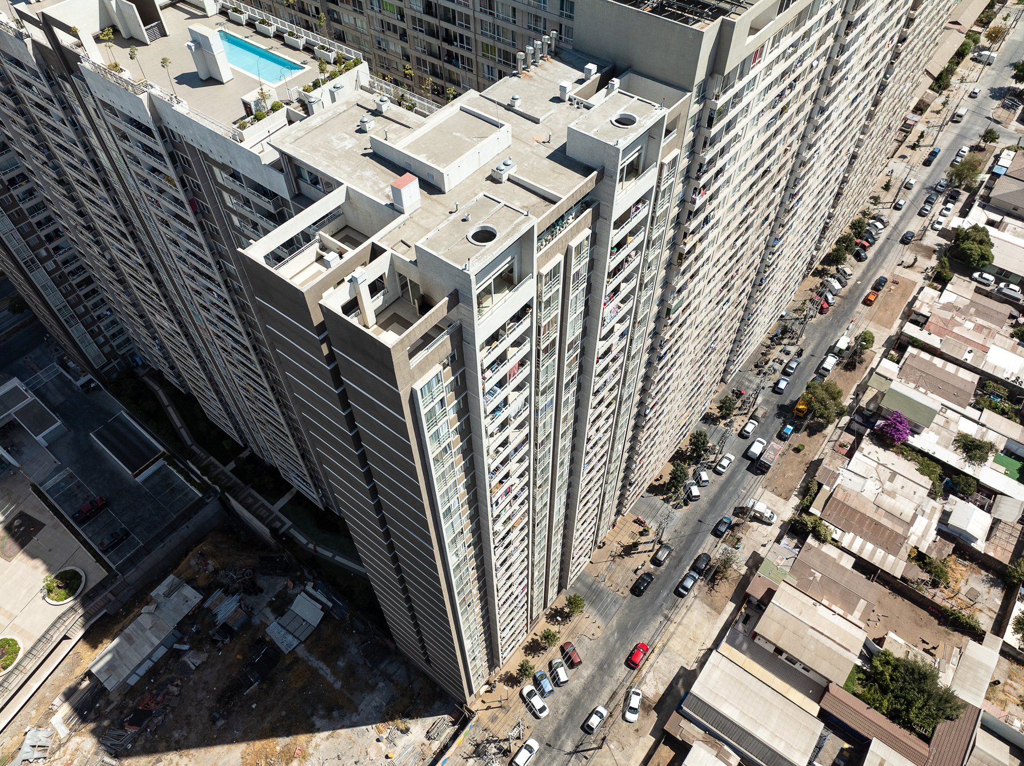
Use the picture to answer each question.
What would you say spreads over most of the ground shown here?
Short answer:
buildings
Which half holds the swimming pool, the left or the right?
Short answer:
left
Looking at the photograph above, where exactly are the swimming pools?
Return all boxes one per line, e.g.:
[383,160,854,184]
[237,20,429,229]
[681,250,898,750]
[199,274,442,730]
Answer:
[215,25,307,86]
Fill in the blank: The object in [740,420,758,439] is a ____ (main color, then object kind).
white car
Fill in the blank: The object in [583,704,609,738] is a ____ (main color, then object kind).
white car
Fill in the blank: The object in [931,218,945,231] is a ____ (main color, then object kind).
white vehicle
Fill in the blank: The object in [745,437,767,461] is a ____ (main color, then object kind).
white vehicle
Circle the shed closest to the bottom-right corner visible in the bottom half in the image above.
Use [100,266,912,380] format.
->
[961,730,1014,766]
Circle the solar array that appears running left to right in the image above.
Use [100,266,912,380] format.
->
[644,0,793,36]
